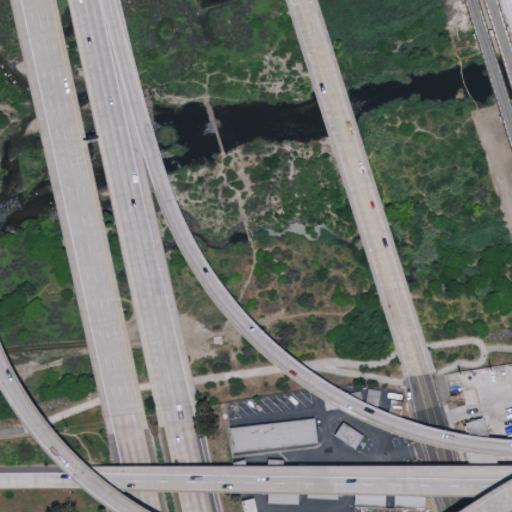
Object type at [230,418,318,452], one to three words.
building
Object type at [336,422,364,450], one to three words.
building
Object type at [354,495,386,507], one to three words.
shed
